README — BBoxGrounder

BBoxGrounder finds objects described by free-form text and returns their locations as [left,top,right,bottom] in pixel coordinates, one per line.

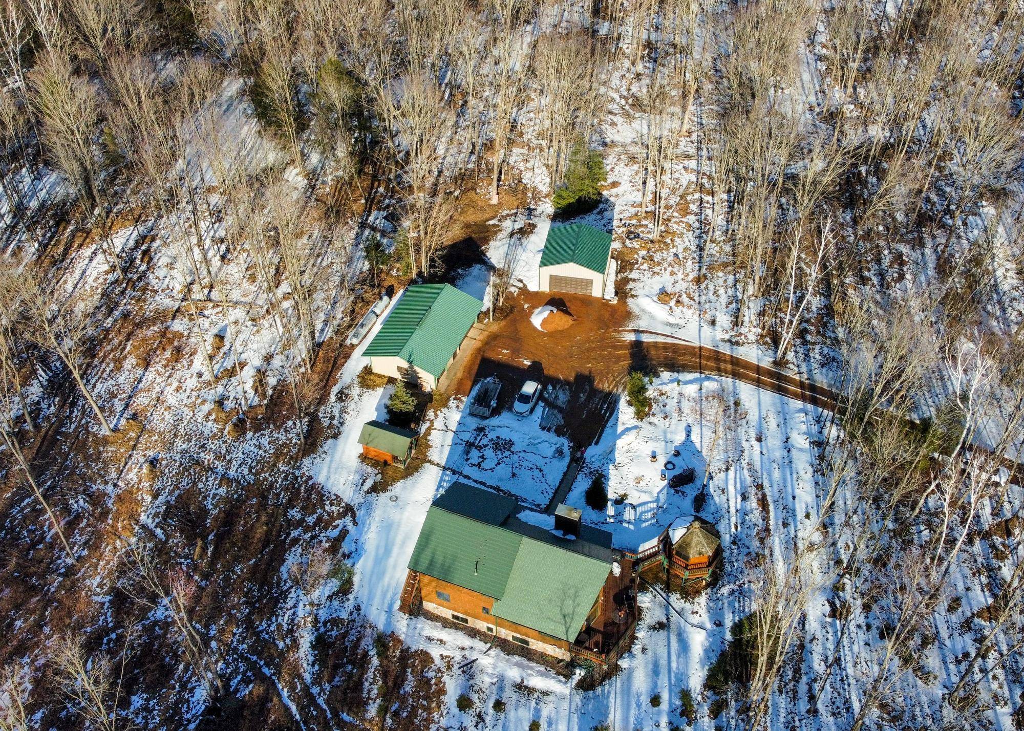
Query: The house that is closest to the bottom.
[405,481,615,662]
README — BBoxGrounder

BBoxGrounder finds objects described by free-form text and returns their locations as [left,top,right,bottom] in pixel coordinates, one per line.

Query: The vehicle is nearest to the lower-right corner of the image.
[513,376,545,416]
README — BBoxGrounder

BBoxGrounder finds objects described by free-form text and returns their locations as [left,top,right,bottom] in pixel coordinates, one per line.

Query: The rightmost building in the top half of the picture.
[539,223,612,295]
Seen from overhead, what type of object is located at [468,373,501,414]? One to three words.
trailer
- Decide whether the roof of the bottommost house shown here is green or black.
green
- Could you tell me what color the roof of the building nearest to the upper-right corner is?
green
